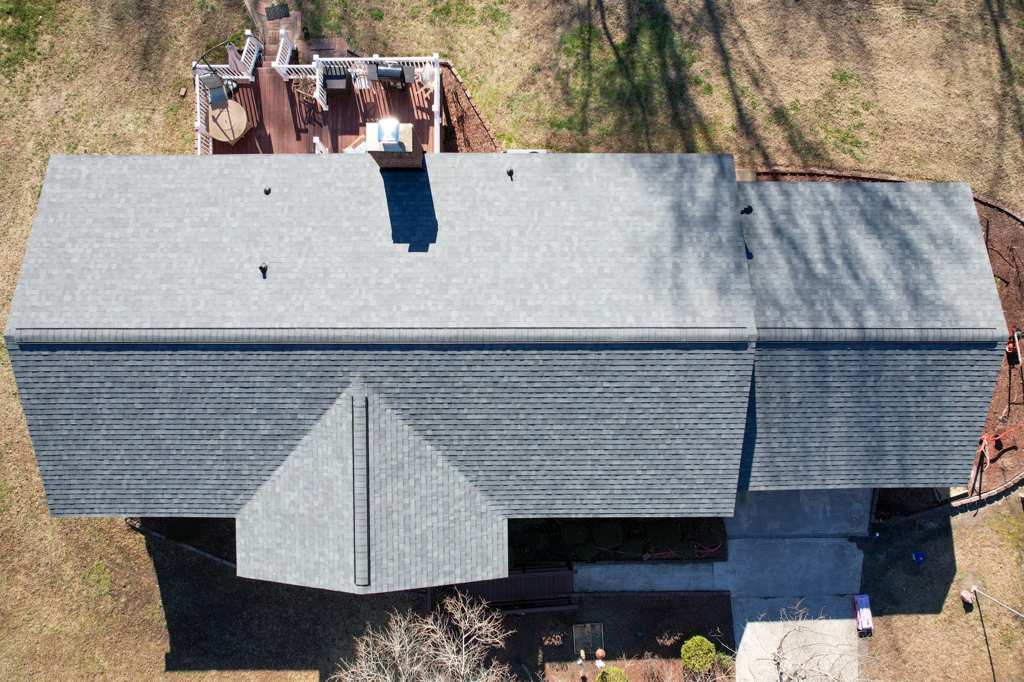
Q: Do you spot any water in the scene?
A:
No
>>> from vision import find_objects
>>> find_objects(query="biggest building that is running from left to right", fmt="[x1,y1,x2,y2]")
[4,121,1008,595]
